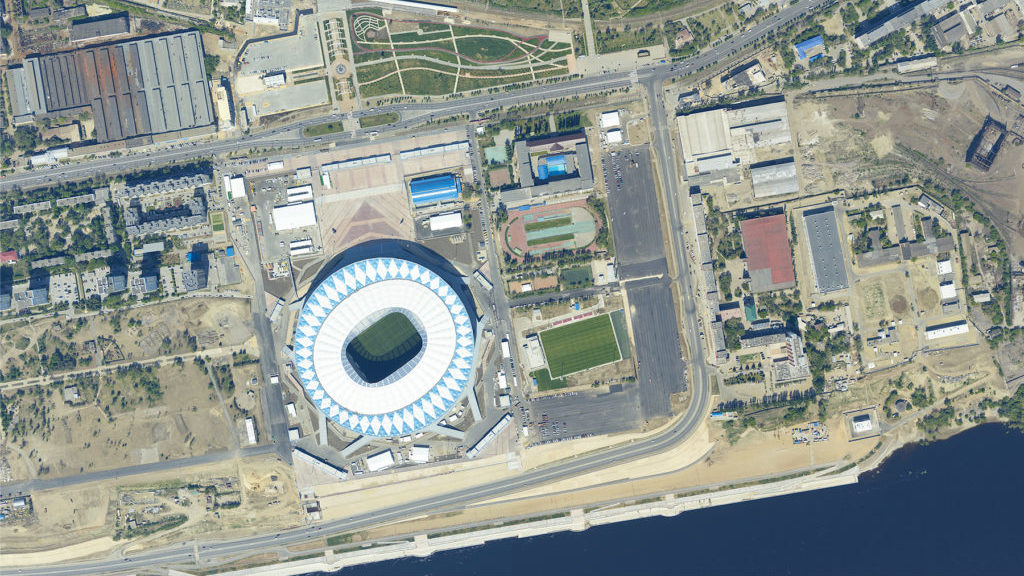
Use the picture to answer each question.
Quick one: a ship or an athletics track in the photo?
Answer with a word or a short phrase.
athletics track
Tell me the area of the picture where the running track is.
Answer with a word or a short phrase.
center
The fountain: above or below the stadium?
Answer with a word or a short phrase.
above it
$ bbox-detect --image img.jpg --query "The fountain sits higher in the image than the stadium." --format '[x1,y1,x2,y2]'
[330,58,352,80]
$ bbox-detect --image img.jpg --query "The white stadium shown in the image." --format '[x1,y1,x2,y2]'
[280,255,491,459]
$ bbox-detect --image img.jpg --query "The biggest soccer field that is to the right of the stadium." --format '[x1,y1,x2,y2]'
[538,312,623,380]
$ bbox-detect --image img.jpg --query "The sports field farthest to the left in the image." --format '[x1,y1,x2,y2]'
[347,311,423,382]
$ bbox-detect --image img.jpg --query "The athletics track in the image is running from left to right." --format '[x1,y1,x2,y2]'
[499,199,602,260]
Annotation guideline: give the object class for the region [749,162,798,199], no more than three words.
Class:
building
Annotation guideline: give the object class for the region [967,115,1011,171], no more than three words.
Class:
building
